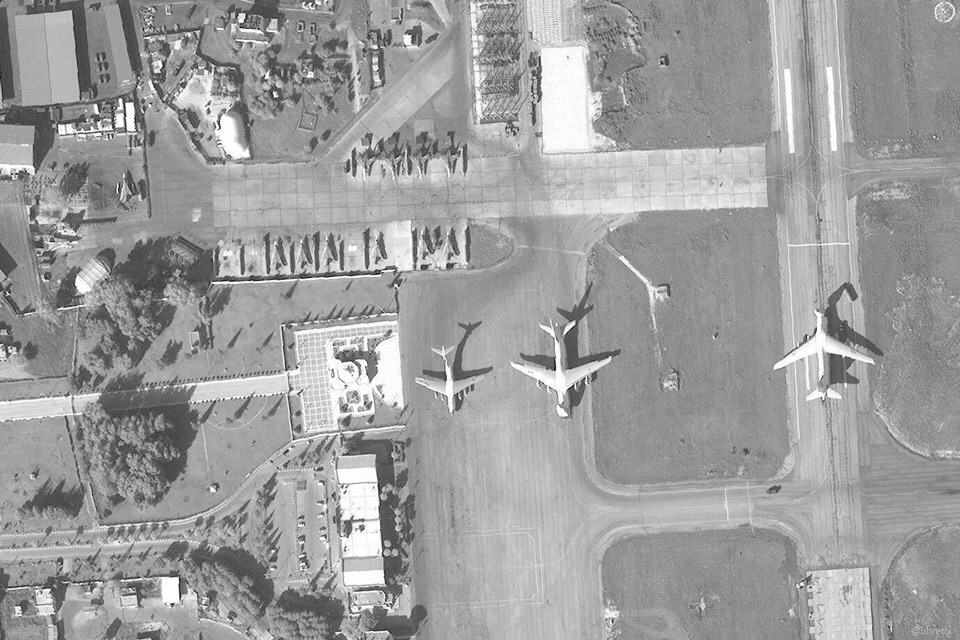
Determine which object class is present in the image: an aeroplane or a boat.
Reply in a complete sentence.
The one in the frame is an aeroplane.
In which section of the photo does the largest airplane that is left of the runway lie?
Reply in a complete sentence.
The largest airplane that is left of the runway appears toward the center of the photo.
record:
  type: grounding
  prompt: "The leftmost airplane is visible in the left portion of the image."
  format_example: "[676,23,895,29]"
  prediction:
[116,174,129,203]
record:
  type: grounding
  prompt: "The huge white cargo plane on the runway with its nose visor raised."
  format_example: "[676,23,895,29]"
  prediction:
[770,309,874,401]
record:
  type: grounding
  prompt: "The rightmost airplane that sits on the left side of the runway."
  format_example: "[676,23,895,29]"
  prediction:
[509,322,614,417]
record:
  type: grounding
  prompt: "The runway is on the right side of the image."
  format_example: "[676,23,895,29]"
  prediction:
[747,0,872,562]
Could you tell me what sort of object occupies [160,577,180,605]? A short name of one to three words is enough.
house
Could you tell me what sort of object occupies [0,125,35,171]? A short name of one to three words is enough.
hangar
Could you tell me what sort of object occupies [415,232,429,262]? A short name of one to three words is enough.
airplane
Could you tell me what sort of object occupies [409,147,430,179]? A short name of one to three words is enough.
airplane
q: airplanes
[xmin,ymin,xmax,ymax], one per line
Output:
[442,233,456,263]
[770,309,874,401]
[509,322,614,417]
[413,344,484,413]
[352,149,374,180]
[370,233,384,263]
[116,174,129,203]
[438,145,459,176]
[382,148,403,179]
[295,241,309,271]
[409,147,430,179]
[415,232,429,262]
[321,238,335,267]
[269,243,283,273]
